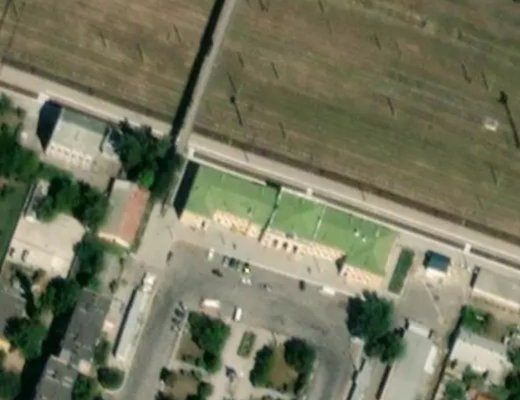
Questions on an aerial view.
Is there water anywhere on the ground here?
No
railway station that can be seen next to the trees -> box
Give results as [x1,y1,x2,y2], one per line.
[0,65,520,288]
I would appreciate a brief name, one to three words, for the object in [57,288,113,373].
building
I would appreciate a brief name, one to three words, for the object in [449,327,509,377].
house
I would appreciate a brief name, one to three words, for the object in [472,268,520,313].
building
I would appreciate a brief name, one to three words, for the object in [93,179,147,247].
house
